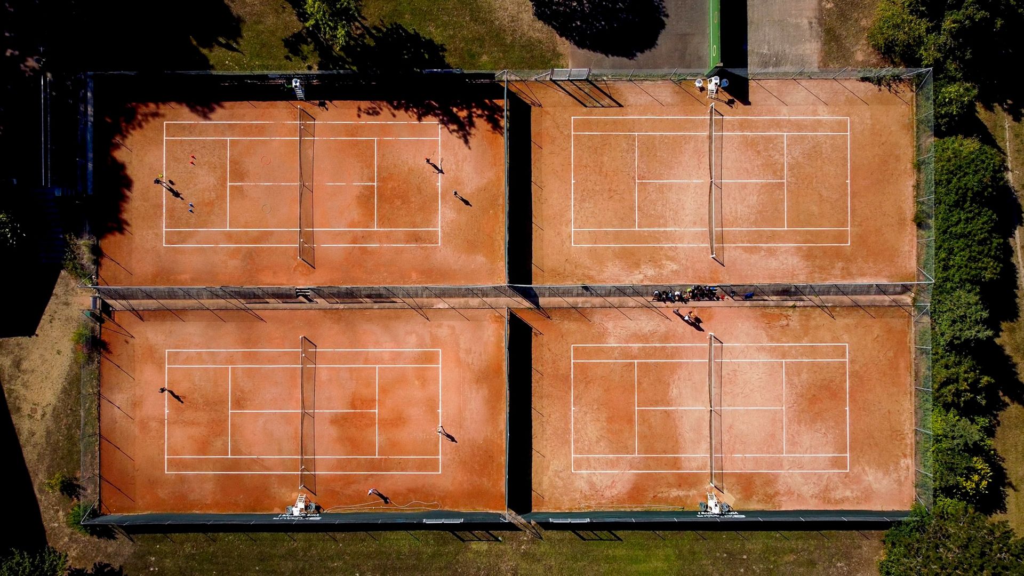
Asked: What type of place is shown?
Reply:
sports ground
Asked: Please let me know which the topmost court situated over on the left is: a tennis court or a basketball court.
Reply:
tennis court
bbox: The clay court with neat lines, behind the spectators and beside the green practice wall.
[509,79,915,286]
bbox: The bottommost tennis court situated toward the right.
[508,306,912,512]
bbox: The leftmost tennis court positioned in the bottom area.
[97,308,508,514]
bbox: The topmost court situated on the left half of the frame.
[96,80,508,289]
